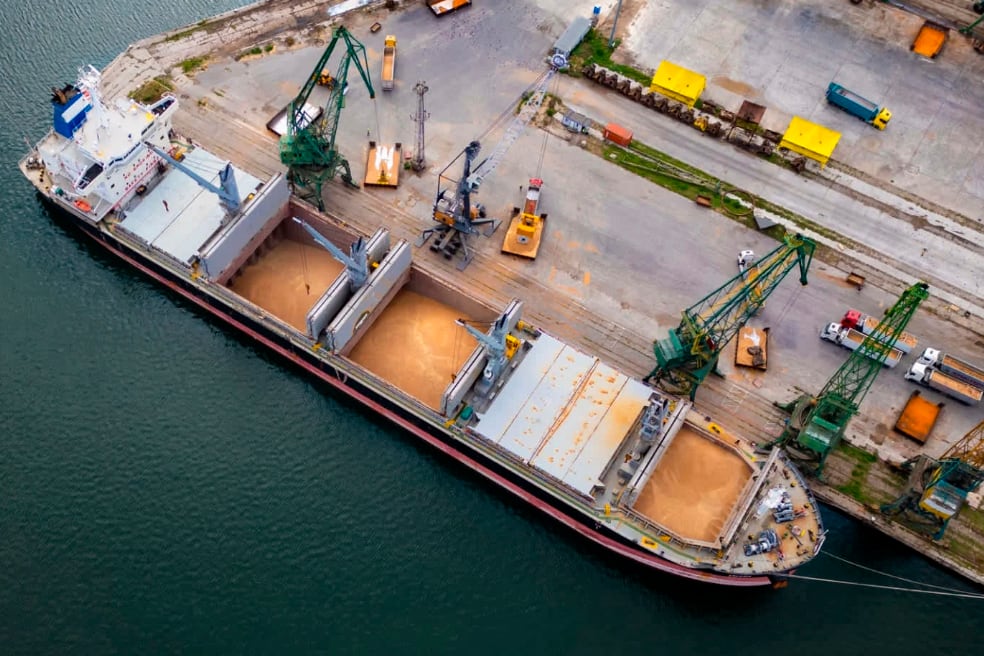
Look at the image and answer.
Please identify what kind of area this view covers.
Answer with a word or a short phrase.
port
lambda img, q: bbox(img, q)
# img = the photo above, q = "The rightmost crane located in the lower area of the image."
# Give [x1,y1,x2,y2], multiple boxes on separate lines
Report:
[881,434,984,550]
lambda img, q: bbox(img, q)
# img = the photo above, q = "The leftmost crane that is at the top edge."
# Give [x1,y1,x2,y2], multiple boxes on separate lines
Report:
[271,23,382,210]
